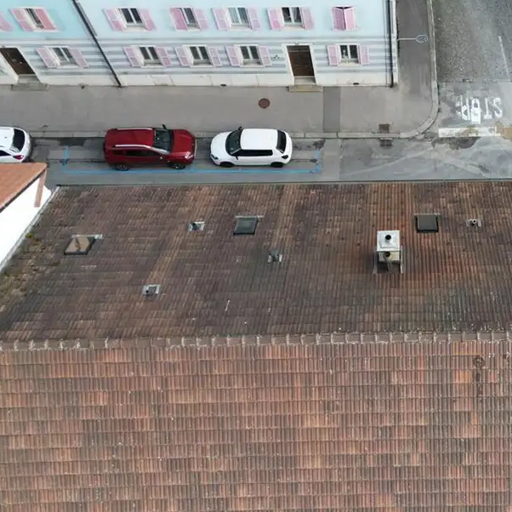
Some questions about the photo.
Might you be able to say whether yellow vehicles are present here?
No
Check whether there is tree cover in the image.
No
